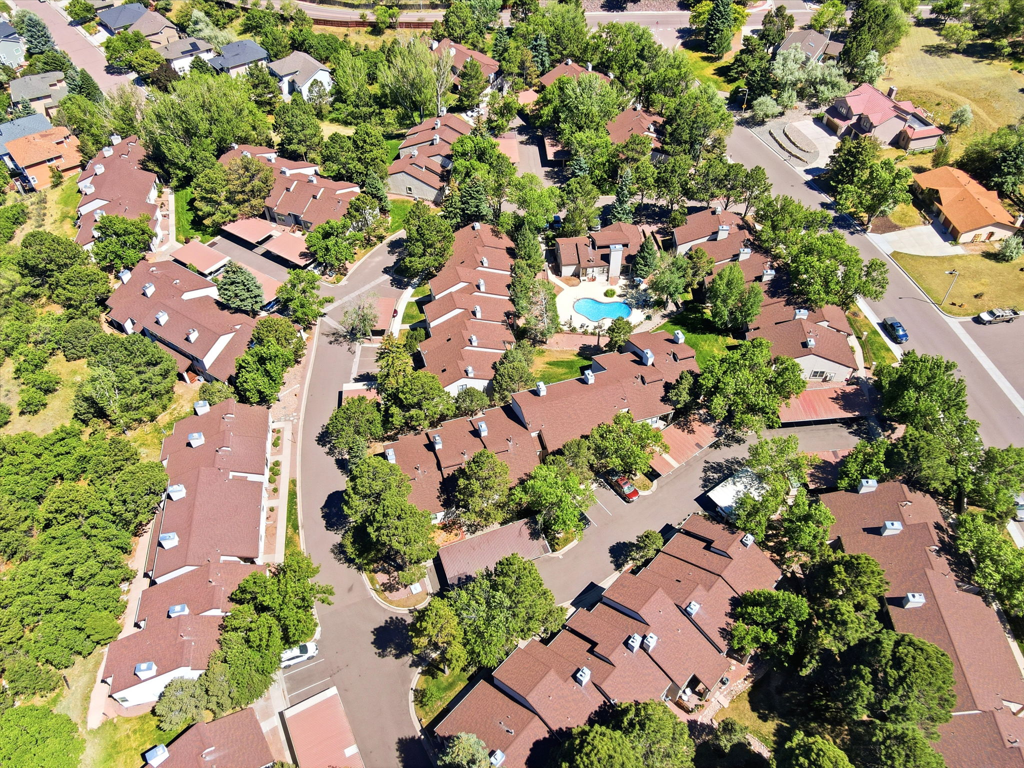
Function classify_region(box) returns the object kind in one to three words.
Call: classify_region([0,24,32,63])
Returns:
house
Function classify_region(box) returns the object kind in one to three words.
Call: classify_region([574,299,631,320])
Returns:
swimming pool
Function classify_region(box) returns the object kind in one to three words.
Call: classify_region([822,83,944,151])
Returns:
house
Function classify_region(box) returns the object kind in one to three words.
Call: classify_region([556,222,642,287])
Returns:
building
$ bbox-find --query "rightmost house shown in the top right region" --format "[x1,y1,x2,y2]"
[912,166,1023,247]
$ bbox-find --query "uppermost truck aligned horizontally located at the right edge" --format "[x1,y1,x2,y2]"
[980,305,1024,326]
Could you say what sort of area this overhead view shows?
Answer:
residential area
